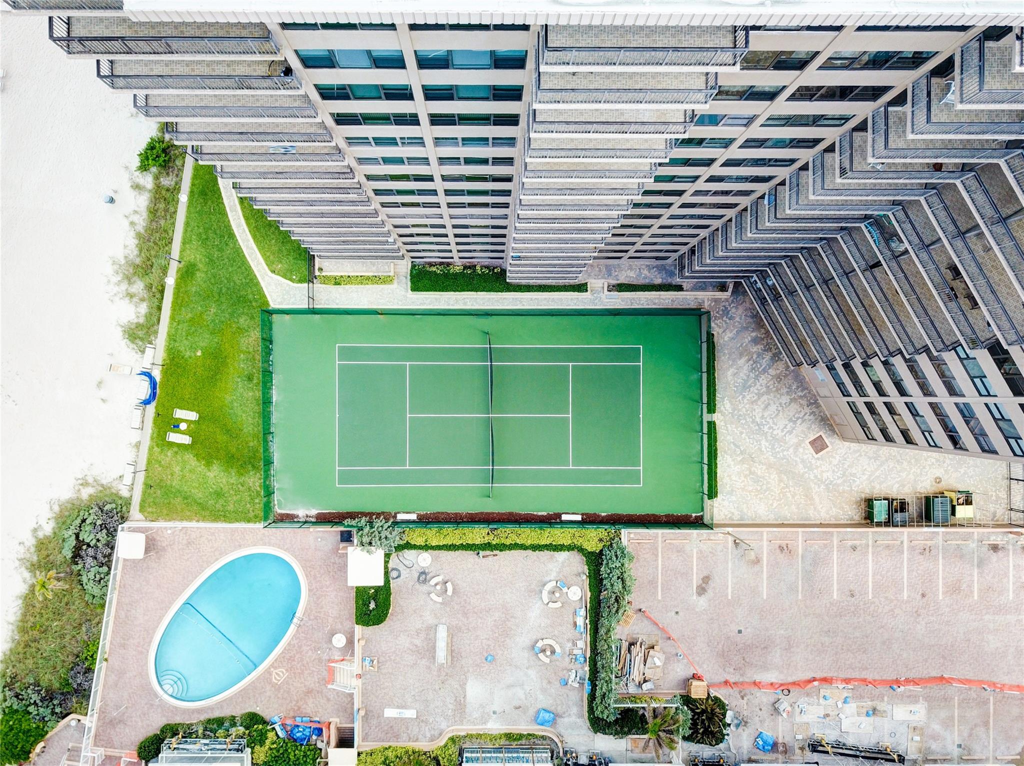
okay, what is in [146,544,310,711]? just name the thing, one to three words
swimming pool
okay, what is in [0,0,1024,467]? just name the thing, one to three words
building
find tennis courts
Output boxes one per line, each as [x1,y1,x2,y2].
[273,315,704,513]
